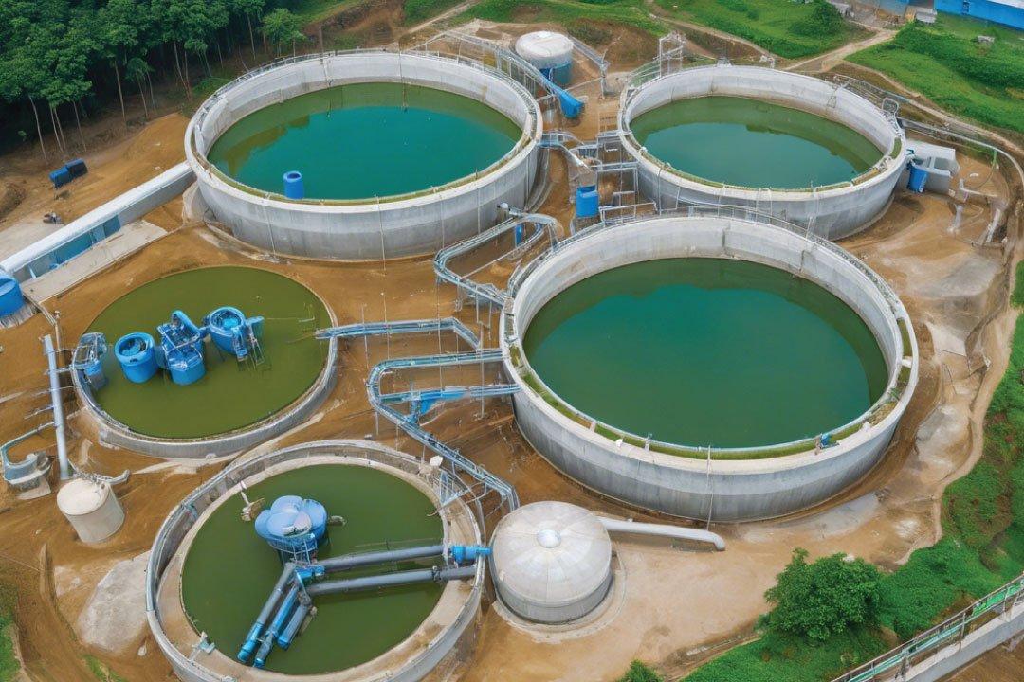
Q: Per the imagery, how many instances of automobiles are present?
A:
none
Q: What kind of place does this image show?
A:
industrial area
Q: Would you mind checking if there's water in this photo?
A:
Yes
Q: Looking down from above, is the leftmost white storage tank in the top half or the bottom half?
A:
bottom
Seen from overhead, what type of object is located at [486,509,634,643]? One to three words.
storage tank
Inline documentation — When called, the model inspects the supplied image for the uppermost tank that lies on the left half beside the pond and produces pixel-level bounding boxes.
[183,39,538,265]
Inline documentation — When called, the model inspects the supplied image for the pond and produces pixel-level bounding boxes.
[69,272,342,461]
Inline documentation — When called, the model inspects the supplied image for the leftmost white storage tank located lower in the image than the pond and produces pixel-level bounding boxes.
[57,475,131,552]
